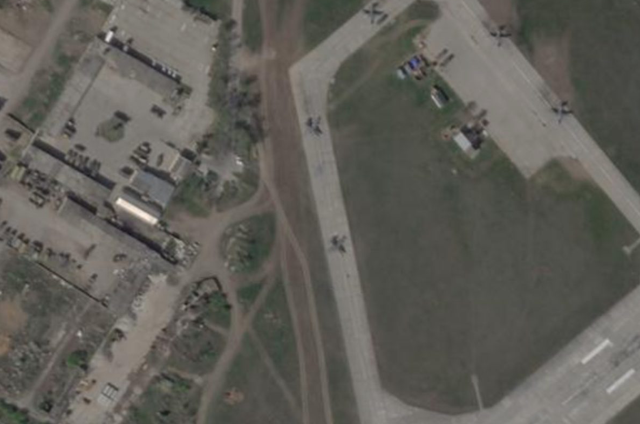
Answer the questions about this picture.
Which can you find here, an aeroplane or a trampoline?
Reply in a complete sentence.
The one in the frame is an aeroplane.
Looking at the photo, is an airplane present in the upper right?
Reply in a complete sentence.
Yes, there is an airplane in the upper right.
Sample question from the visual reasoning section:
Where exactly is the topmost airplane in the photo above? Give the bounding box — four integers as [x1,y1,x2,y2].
[362,1,384,24]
